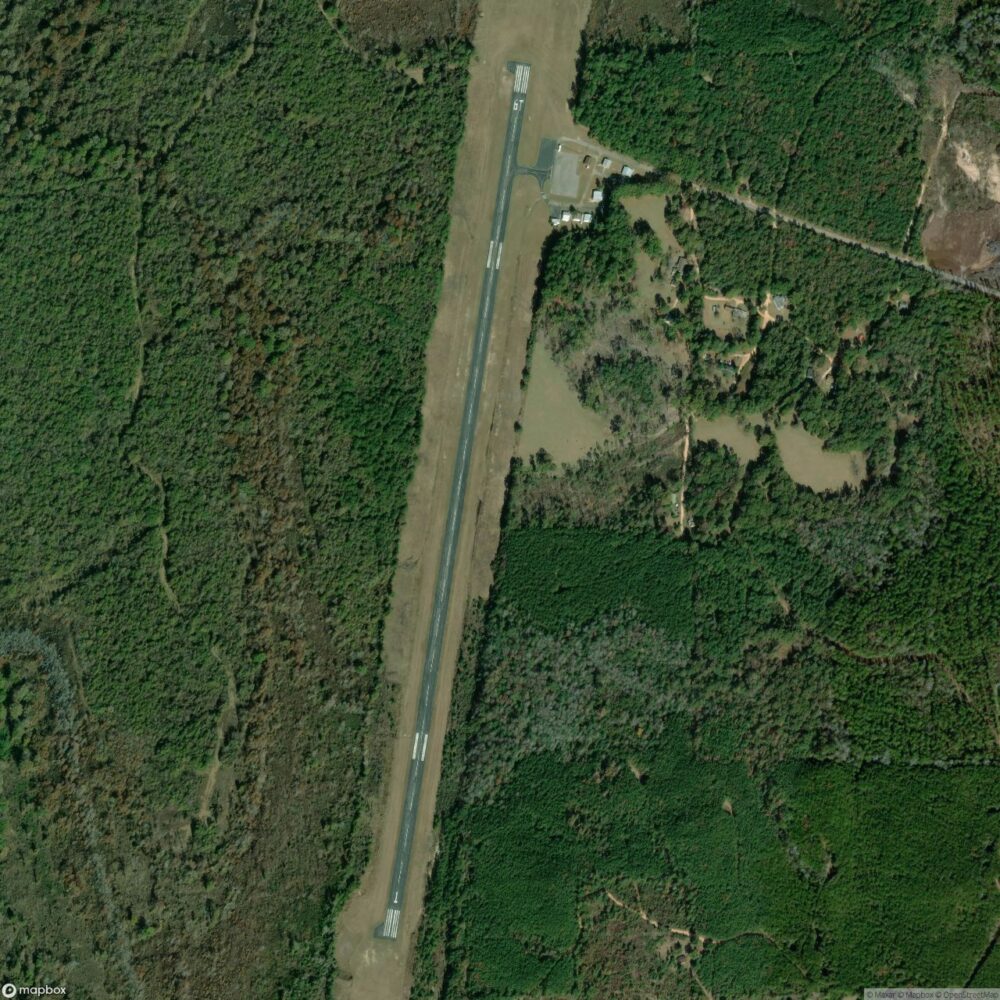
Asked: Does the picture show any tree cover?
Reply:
Yes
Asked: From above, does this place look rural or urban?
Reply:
rural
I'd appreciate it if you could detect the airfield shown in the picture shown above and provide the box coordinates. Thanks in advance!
[374,59,606,942]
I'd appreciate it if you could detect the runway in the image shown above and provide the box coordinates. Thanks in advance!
[384,62,530,939]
